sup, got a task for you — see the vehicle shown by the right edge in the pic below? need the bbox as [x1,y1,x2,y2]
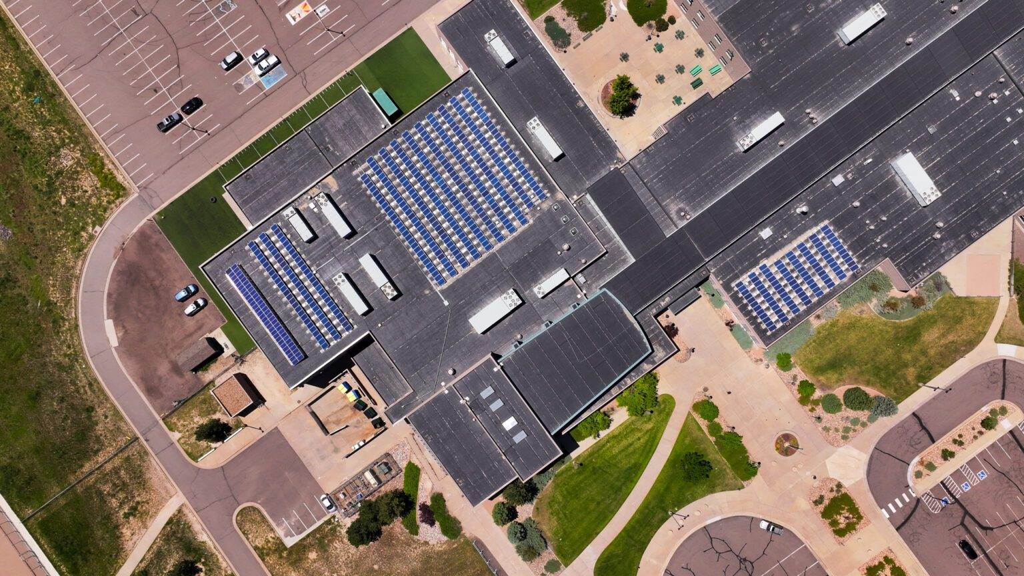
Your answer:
[958,538,977,560]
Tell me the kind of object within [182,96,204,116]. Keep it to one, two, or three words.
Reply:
car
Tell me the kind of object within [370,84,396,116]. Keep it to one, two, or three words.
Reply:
shed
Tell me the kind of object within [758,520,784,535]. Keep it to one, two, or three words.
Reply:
vehicle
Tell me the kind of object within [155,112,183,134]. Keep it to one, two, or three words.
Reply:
truck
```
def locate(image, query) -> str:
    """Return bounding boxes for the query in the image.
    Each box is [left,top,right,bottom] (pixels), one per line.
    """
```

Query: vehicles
[182,96,204,116]
[185,297,207,315]
[319,491,337,511]
[958,538,977,560]
[222,52,244,71]
[249,47,271,65]
[758,520,784,535]
[255,54,281,77]
[176,284,198,301]
[155,112,183,134]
